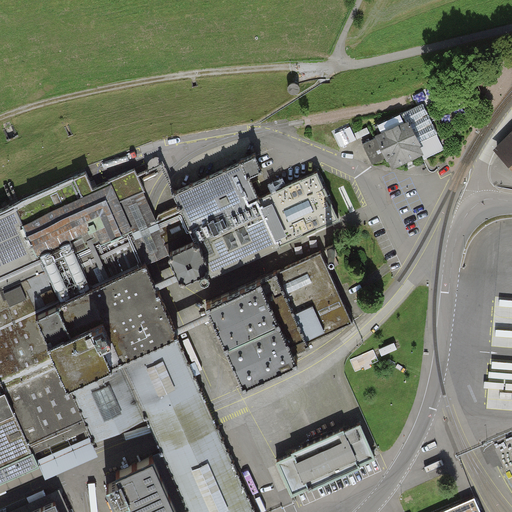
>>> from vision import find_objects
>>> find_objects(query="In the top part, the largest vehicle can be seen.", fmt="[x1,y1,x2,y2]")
[98,152,138,170]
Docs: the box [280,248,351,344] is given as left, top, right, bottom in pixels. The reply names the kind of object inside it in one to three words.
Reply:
building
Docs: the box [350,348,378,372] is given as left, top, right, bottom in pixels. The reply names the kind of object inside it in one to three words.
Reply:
shed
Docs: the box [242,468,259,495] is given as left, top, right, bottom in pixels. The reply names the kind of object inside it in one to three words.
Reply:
vehicle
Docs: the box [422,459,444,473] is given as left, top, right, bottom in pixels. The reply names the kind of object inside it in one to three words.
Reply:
vehicle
